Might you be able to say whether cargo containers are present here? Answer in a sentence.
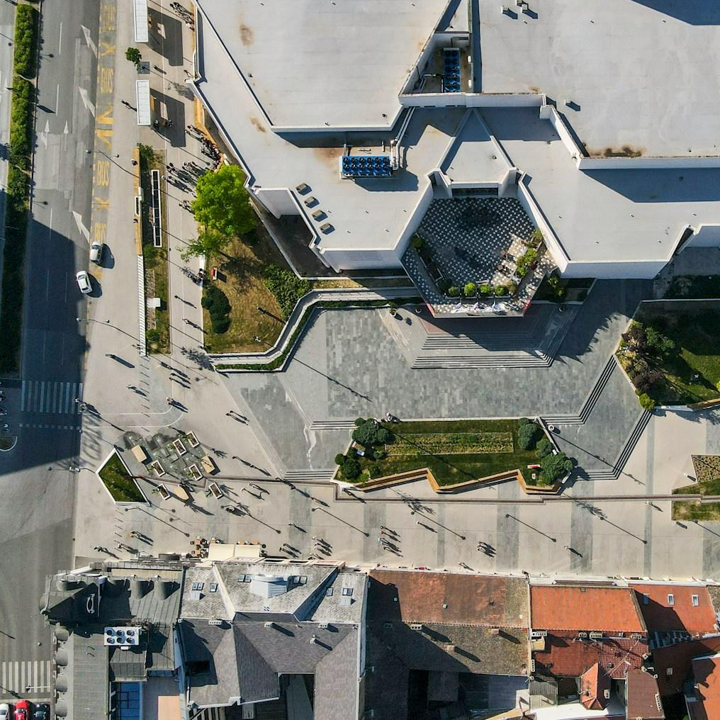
No, I can't see a single cargo container in this photo.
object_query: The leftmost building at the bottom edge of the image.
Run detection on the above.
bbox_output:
[45,555,213,720]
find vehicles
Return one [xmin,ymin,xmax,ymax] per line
[88,237,105,266]
[76,269,93,297]
[15,699,30,720]
[34,704,50,720]
[0,703,12,720]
